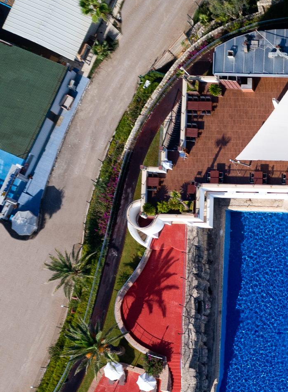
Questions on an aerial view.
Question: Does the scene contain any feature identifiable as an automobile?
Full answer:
No, the frame has no automobile in it.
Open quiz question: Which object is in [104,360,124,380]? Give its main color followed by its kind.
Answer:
white umbrella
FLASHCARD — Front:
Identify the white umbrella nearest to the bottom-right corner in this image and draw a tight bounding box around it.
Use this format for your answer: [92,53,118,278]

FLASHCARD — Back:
[137,373,157,392]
